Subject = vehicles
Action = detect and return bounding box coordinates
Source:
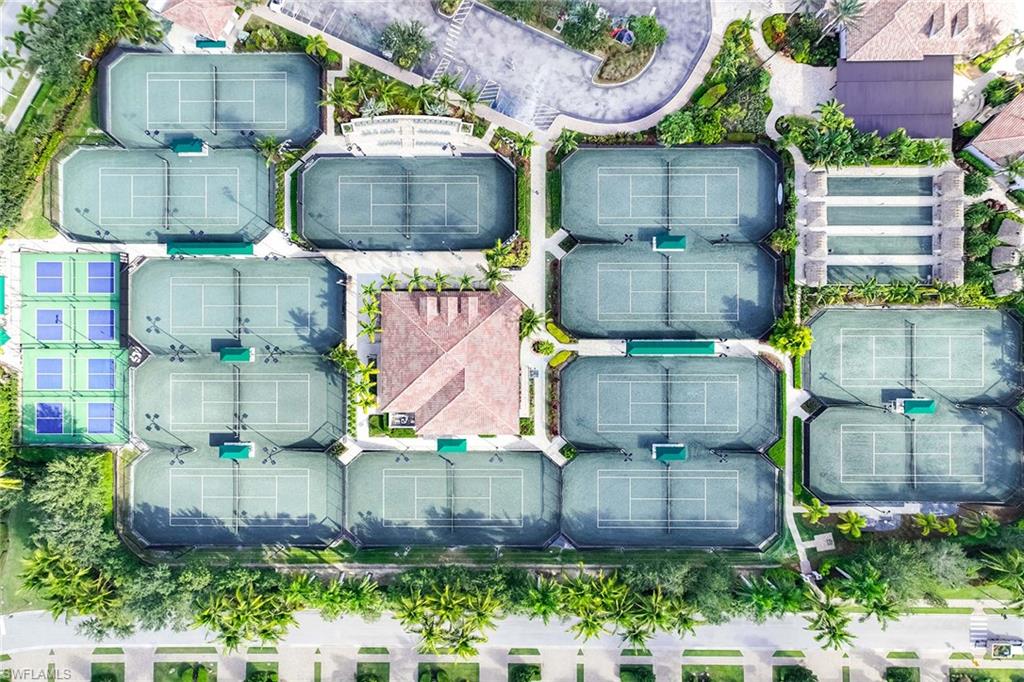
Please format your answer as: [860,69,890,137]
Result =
[985,638,1024,657]
[269,0,285,11]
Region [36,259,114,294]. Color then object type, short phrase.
blue sports court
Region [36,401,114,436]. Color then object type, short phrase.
blue sports court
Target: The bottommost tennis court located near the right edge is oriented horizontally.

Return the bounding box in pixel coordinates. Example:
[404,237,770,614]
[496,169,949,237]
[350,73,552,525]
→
[810,406,1017,502]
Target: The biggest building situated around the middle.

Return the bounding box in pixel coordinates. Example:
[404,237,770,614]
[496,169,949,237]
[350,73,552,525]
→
[380,284,526,437]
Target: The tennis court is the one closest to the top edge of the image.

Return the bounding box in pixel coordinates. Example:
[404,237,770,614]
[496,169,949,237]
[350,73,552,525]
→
[109,54,319,148]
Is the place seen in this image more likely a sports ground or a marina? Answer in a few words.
sports ground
